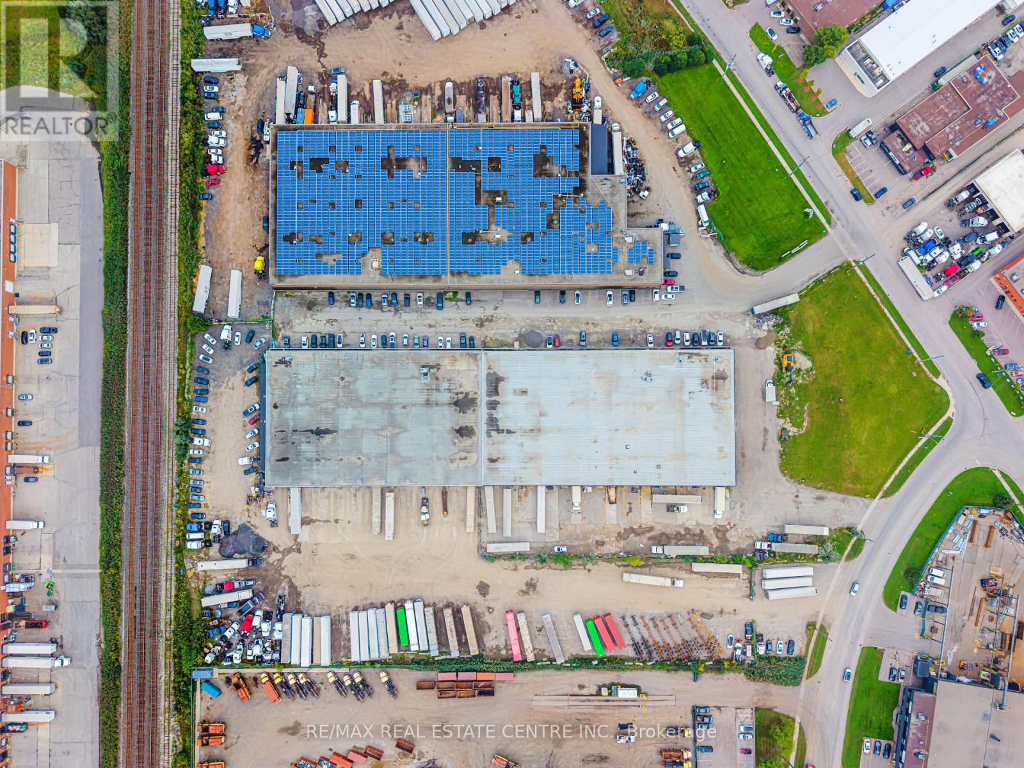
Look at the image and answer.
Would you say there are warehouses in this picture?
Yes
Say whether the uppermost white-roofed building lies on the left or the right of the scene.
right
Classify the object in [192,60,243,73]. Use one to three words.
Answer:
vehicle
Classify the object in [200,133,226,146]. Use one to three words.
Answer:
vehicle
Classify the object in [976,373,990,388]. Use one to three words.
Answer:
car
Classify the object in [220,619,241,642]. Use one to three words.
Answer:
truck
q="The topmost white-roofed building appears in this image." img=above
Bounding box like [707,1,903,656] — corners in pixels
[835,0,1016,99]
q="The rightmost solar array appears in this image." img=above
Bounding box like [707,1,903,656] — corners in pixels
[629,241,654,264]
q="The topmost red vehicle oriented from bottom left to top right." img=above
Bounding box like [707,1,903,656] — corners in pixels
[907,167,931,185]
